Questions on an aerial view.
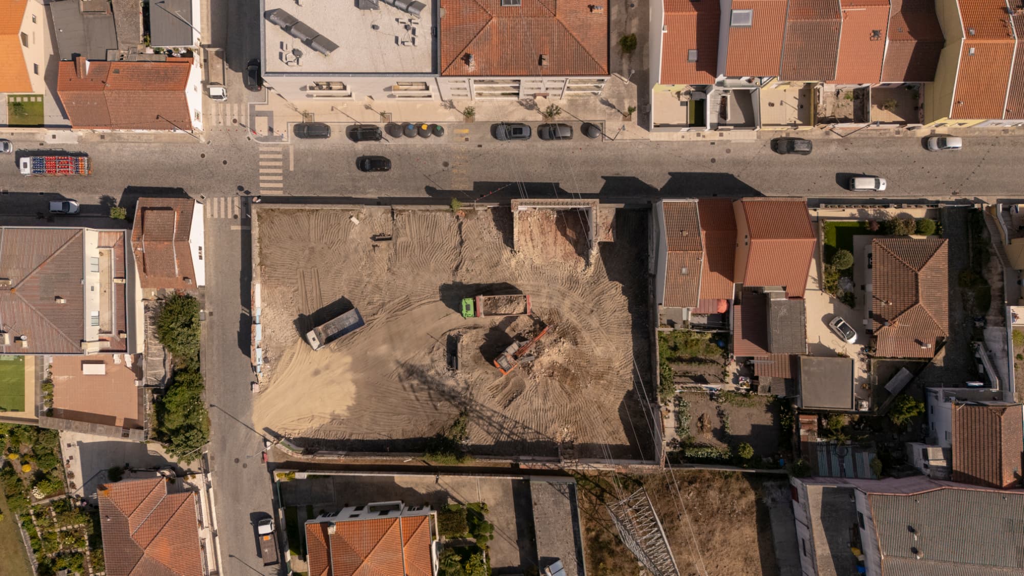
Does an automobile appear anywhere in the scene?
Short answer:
Yes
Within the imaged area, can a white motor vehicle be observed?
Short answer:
Yes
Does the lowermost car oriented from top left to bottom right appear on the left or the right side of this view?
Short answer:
right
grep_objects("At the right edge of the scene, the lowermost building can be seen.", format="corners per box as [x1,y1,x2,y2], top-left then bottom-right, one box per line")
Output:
[844,474,1024,576]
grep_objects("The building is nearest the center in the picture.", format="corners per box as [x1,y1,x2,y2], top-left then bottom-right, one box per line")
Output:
[511,198,624,269]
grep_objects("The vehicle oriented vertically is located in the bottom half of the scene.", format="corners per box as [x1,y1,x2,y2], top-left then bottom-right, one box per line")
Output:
[254,513,283,568]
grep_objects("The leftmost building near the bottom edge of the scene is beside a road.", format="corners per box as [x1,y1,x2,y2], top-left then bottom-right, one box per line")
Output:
[97,469,218,576]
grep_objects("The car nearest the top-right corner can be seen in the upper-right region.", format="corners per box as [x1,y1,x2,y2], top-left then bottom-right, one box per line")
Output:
[926,135,964,152]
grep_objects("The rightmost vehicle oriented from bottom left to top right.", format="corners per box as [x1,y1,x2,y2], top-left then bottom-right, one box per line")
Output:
[488,312,559,379]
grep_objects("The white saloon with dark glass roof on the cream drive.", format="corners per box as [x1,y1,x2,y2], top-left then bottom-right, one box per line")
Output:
[827,312,859,348]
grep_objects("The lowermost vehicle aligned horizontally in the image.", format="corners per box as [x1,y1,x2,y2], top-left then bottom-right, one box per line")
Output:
[461,295,536,319]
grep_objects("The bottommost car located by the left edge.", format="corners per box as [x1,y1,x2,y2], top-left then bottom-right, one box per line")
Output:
[46,199,82,215]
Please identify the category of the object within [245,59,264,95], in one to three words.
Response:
car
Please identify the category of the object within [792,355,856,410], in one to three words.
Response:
building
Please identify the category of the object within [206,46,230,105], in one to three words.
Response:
truck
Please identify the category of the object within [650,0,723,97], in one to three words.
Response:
house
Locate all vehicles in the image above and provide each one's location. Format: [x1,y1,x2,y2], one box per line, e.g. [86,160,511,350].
[46,199,82,215]
[926,135,964,152]
[0,138,21,155]
[848,175,884,192]
[296,123,332,140]
[245,59,264,95]
[541,124,573,141]
[461,295,536,319]
[488,312,559,379]
[254,513,283,568]
[350,125,383,142]
[206,46,230,105]
[19,154,98,177]
[773,138,812,155]
[359,155,393,173]
[496,123,533,141]
[827,312,859,348]
[302,302,369,354]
